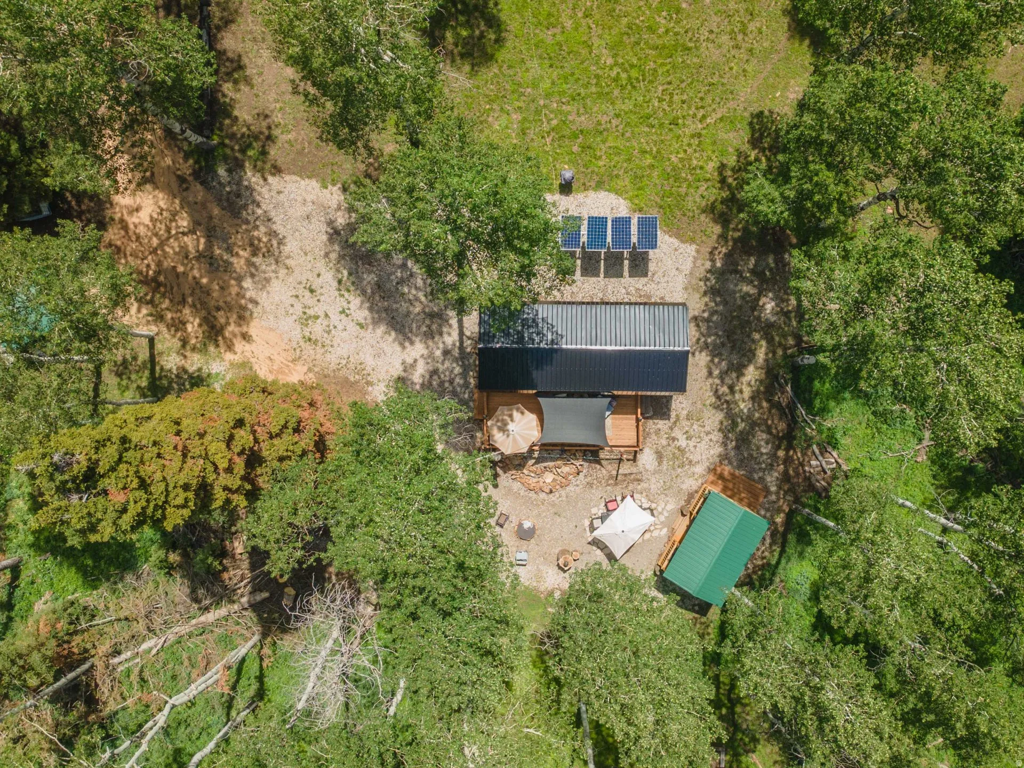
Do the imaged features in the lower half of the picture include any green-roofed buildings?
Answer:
Yes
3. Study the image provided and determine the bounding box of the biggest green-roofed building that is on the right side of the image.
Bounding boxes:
[663,490,770,607]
